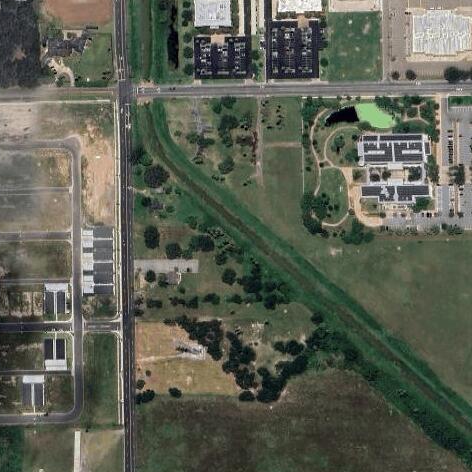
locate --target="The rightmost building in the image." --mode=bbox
[413,10,472,57]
